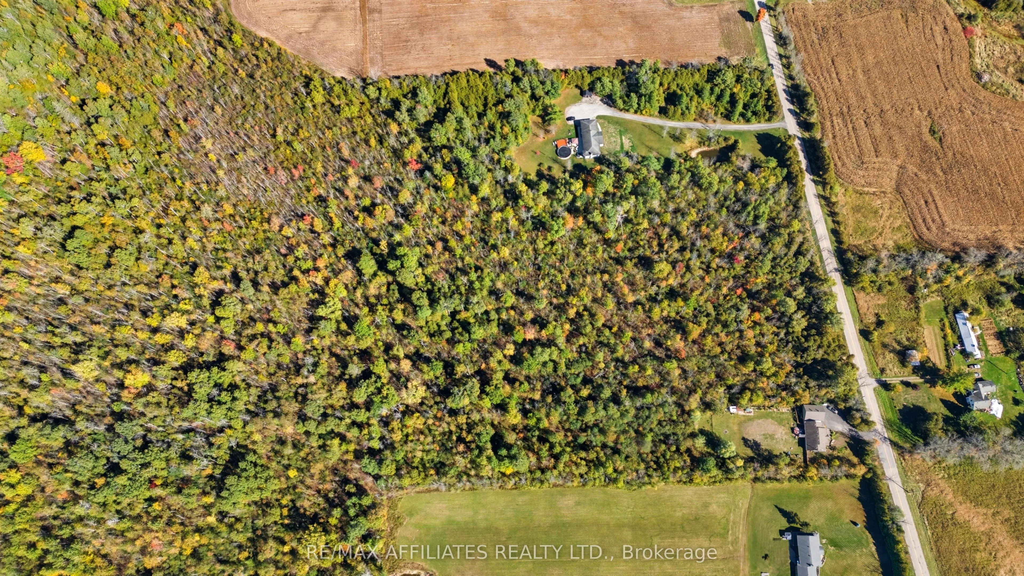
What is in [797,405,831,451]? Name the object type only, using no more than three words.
house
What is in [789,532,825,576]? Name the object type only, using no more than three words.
house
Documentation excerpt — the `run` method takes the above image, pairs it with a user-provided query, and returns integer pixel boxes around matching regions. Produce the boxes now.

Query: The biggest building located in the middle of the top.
[577,119,604,159]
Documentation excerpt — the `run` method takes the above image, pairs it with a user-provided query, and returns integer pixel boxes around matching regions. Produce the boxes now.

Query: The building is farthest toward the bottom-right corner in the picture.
[963,380,996,411]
